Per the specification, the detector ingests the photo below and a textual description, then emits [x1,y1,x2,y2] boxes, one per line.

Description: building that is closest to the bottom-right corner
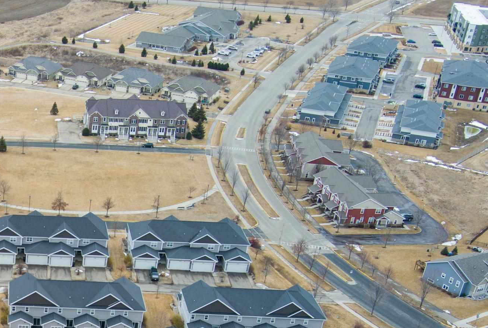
[424,250,488,307]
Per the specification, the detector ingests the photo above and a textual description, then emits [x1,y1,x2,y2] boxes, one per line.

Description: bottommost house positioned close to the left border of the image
[4,270,146,328]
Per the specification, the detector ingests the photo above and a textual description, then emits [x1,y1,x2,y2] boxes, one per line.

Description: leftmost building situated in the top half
[7,58,63,81]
